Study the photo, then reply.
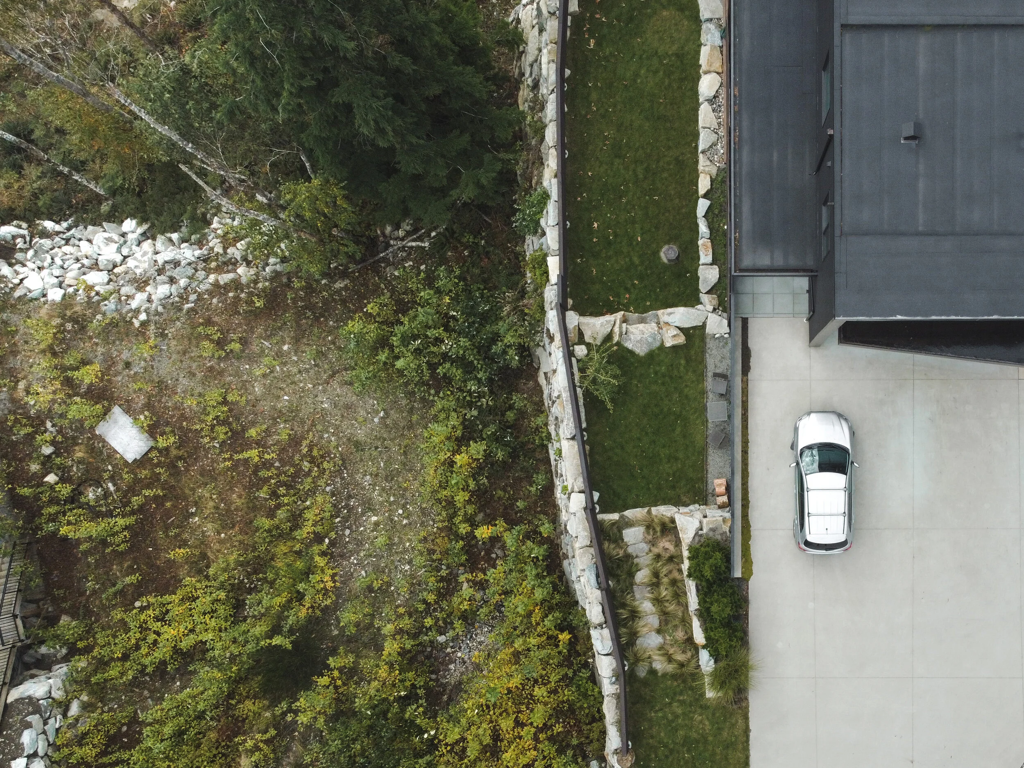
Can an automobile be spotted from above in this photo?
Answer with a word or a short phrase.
Yes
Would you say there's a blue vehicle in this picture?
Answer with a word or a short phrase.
No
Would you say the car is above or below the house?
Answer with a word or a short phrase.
below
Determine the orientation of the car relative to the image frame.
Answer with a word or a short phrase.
up and down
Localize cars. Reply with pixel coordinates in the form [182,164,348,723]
[790,411,860,555]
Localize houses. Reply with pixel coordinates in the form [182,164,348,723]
[724,0,1024,366]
